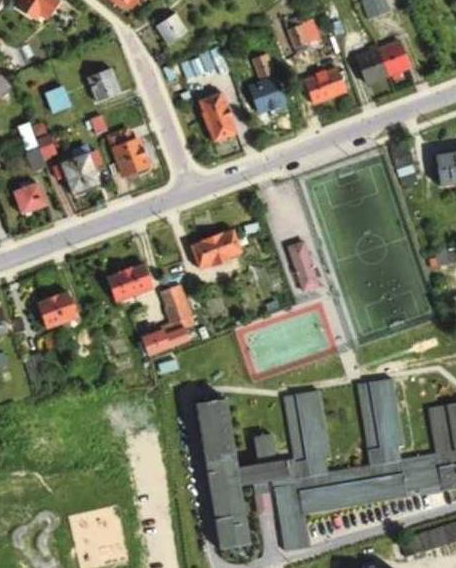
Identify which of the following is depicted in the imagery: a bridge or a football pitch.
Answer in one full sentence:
It is a football pitch that can be seen here.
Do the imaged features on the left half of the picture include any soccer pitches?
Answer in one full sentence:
No, I can find no soccer pitch on the left half of the picture.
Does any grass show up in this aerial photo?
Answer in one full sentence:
Yes, the picture does contain grass.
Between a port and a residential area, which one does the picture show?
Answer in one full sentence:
The area seen from above is a residential area.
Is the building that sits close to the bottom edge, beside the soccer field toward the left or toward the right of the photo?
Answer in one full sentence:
The building that sits close to the bottom edge, beside the soccer field is on the right side of the image.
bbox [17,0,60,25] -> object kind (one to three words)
house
